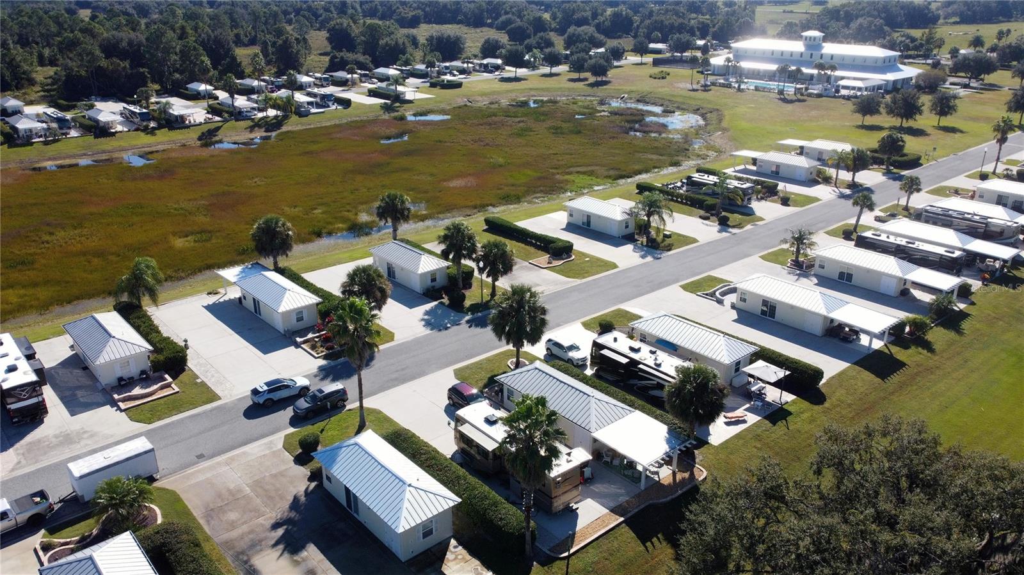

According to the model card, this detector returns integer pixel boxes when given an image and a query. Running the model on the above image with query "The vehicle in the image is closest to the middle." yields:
[542,330,590,365]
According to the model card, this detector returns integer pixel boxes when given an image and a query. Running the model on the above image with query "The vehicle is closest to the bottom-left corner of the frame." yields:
[0,484,60,530]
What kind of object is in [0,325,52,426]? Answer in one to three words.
camper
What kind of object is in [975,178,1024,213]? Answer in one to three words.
house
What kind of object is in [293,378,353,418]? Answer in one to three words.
car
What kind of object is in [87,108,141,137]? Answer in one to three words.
house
